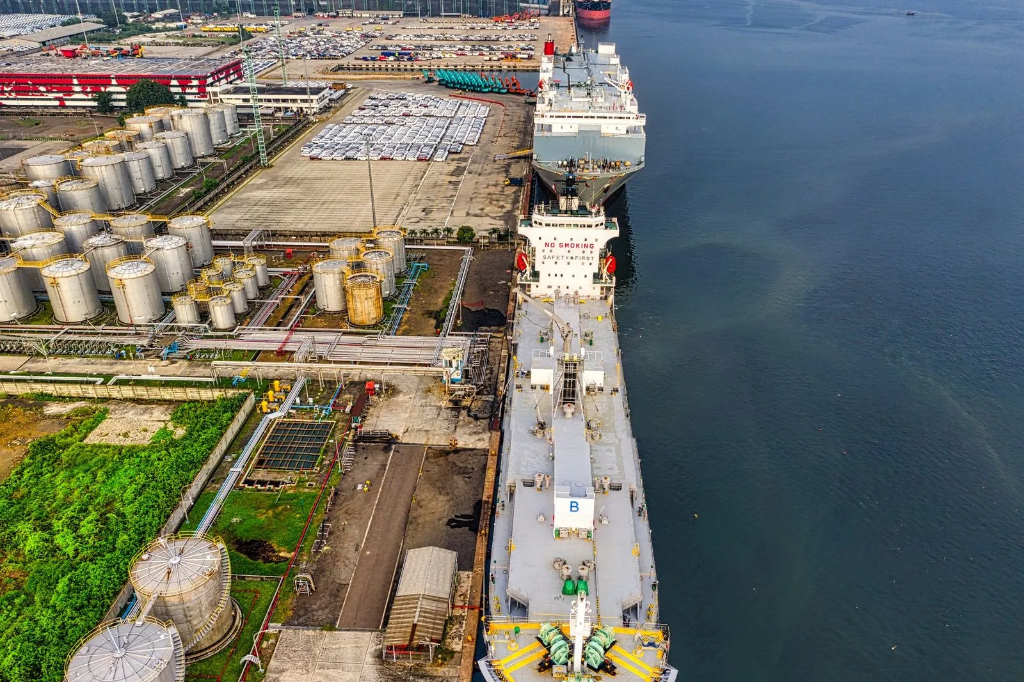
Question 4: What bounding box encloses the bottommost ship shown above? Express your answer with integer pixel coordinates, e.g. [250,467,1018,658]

[482,152,678,682]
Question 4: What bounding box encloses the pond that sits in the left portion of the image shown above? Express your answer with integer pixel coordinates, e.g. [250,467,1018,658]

[247,416,339,475]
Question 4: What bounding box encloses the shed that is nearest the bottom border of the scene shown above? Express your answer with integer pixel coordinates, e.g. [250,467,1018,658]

[377,549,460,664]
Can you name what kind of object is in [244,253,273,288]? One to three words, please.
storage tank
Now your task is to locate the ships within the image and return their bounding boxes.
[482,152,678,682]
[534,30,647,203]
[575,0,611,18]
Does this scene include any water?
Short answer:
Yes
